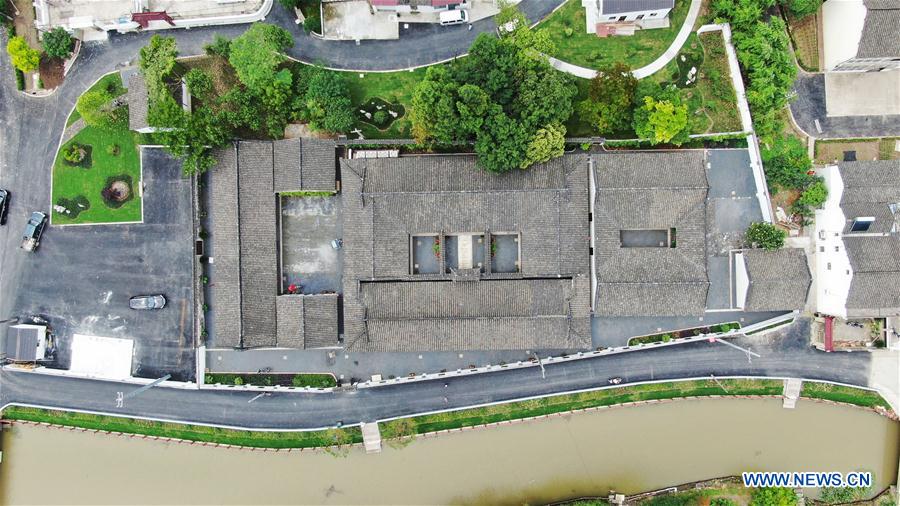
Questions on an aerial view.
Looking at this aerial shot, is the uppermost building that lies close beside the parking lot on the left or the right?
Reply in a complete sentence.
You can find the uppermost building that lies close beside the parking lot on the left side of the picture.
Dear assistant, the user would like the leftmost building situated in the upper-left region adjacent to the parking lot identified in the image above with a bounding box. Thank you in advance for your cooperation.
[127,70,168,136]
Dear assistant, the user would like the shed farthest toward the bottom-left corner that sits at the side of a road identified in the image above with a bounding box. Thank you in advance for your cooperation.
[9,325,48,362]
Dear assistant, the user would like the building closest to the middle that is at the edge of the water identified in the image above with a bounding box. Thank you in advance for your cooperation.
[340,156,590,352]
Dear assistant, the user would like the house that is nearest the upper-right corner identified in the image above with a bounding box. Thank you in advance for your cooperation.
[824,0,900,71]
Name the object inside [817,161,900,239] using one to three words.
house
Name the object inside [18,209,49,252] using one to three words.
truck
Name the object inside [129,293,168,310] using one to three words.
car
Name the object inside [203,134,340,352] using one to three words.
house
